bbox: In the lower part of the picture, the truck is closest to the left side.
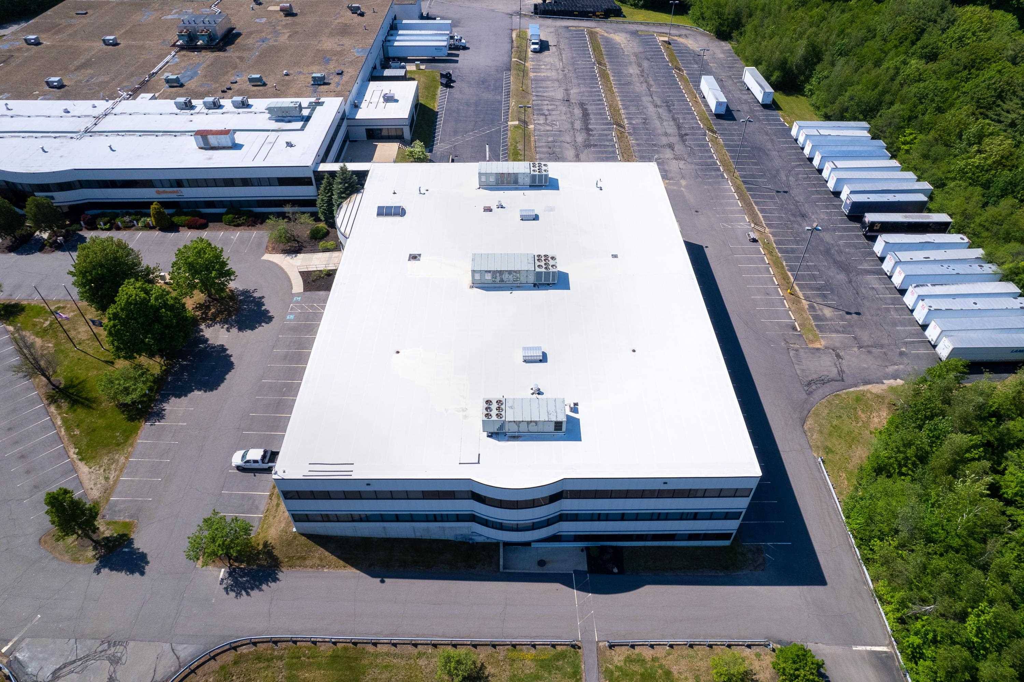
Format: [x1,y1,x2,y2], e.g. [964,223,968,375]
[230,449,280,473]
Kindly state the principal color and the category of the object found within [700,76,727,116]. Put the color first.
white trailer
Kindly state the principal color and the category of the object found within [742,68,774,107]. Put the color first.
white trailer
